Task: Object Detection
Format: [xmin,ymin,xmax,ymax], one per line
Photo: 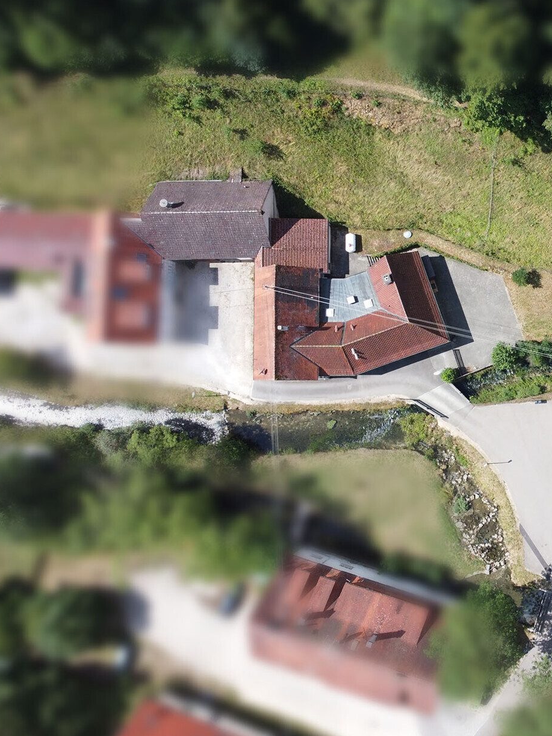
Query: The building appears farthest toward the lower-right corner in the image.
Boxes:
[251,550,459,718]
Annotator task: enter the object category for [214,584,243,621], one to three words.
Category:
car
